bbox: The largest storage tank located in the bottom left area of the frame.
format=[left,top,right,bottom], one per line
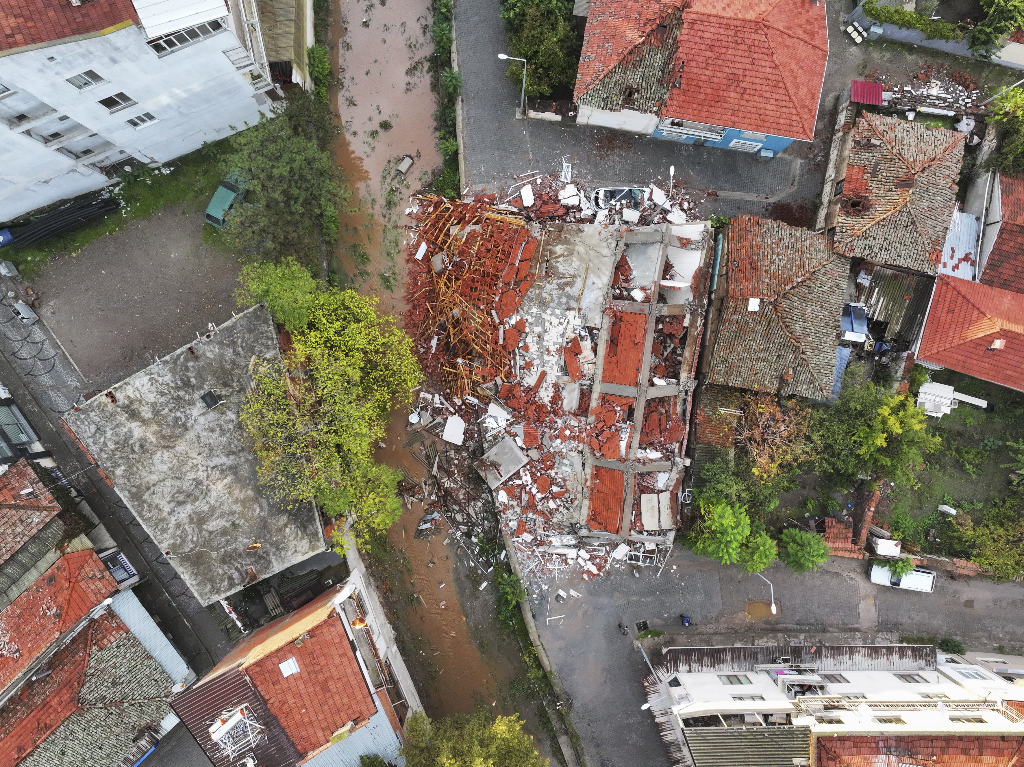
[210,708,244,743]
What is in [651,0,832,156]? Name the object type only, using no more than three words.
house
